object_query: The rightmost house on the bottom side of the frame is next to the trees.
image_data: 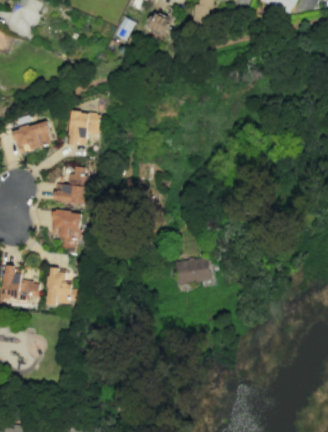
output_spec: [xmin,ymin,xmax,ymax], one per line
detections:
[178,258,214,284]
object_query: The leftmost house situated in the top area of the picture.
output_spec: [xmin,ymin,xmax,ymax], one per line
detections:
[12,117,56,153]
